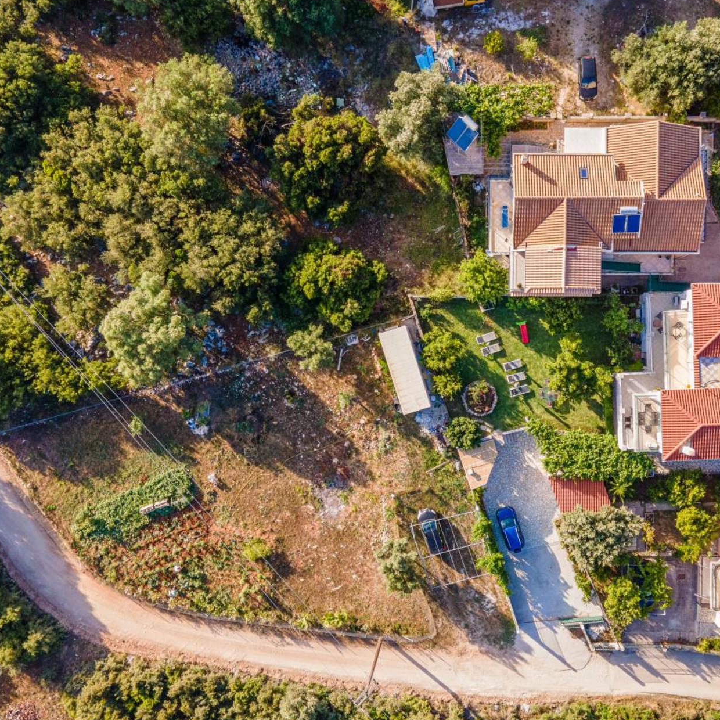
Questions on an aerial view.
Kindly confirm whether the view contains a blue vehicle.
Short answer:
Yes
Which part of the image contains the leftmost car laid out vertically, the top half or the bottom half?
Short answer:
bottom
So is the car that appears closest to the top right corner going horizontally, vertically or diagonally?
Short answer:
vertically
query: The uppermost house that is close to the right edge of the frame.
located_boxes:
[489,120,706,298]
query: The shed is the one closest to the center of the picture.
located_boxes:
[379,324,431,415]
